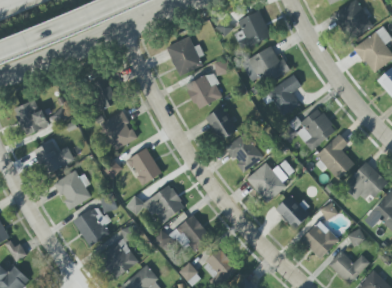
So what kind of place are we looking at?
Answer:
residential area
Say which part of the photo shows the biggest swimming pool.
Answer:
bottom right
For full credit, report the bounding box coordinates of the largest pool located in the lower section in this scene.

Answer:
[327,214,352,235]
